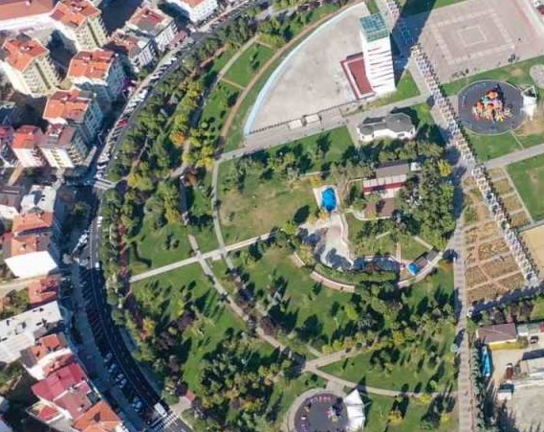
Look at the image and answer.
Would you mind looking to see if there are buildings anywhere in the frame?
Yes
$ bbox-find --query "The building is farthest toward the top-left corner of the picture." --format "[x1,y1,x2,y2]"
[0,0,57,32]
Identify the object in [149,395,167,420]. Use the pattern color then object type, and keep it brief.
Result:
white vehicle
